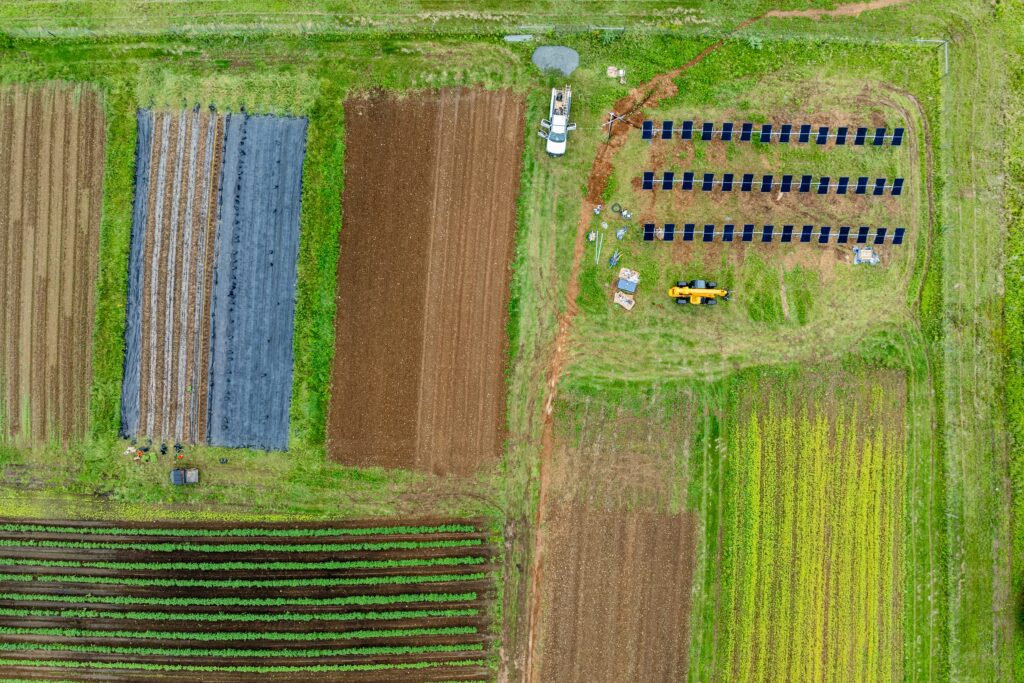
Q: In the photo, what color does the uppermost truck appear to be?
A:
white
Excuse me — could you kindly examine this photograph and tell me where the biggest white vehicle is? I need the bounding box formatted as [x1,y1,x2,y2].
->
[537,87,576,159]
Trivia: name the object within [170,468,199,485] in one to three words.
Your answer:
vehicle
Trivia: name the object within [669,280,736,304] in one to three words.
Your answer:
work vehicle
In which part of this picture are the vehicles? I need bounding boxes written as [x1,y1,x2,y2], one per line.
[537,87,576,159]
[669,280,736,304]
[170,468,199,485]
